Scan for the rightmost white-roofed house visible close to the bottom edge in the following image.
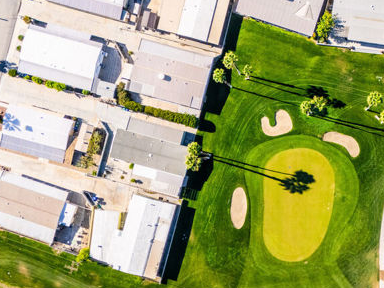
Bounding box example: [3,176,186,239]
[90,195,180,281]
